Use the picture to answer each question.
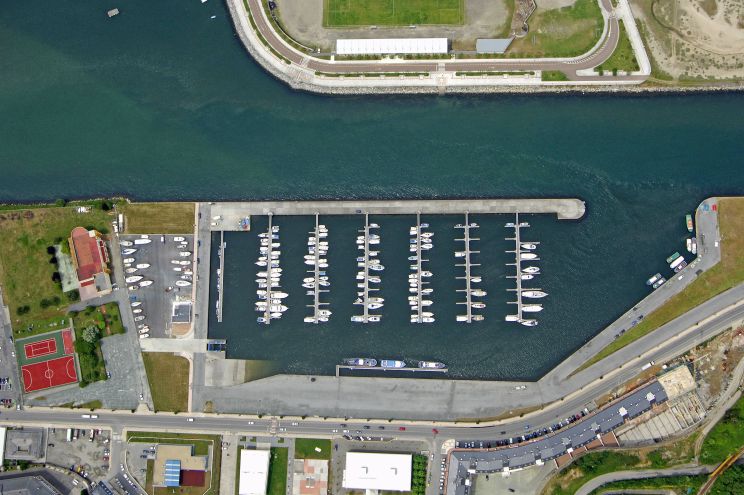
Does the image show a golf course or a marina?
marina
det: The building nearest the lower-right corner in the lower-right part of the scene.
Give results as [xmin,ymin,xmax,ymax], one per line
[668,390,706,430]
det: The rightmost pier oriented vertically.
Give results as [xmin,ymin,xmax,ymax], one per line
[504,212,542,321]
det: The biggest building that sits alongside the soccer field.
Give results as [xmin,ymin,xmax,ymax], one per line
[476,39,511,54]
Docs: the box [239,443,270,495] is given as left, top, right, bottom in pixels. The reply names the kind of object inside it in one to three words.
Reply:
building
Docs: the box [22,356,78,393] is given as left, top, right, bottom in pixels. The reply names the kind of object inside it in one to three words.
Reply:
sports court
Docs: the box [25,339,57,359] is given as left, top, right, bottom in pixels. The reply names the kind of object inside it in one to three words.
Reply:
tennis court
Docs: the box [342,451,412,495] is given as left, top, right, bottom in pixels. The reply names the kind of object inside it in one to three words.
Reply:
building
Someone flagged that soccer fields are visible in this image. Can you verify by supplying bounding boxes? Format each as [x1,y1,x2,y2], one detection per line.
[323,0,466,27]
